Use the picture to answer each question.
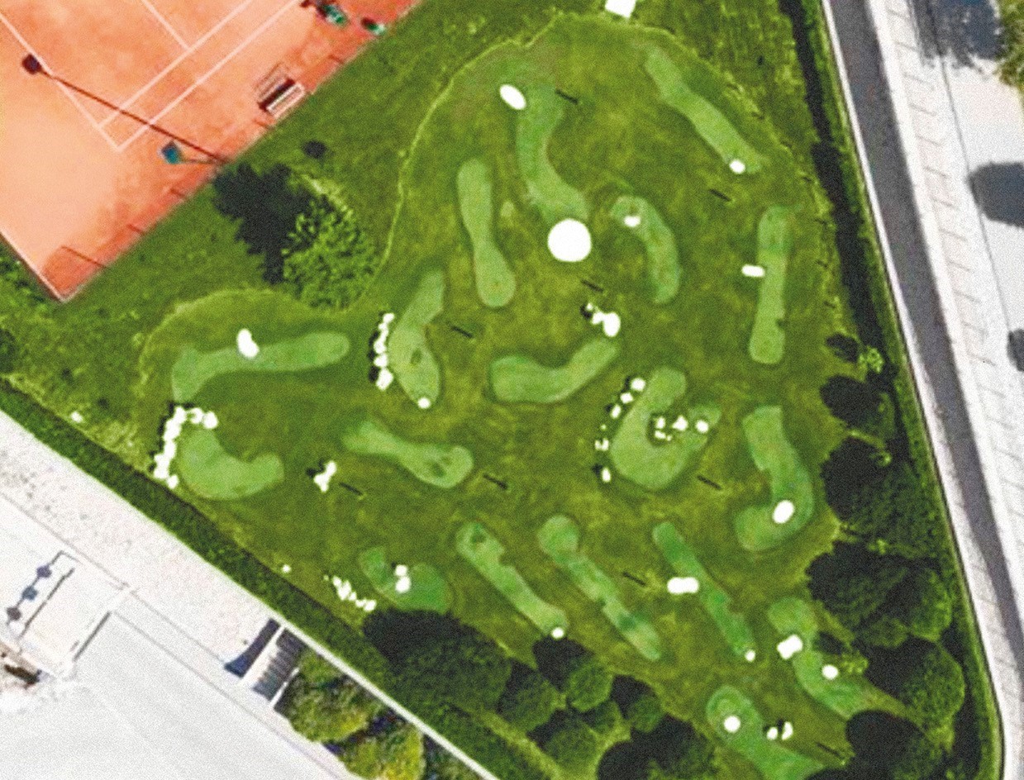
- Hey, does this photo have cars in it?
No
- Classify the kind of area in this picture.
golf course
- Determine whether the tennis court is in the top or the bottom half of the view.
top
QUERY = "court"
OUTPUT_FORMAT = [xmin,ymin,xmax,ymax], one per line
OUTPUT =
[0,0,423,303]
